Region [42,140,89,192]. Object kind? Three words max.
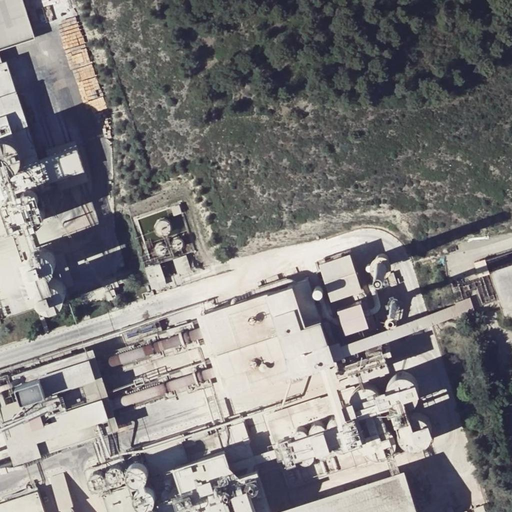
building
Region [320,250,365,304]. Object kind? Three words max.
shed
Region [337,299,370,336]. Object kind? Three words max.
shed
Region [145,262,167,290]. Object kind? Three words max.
building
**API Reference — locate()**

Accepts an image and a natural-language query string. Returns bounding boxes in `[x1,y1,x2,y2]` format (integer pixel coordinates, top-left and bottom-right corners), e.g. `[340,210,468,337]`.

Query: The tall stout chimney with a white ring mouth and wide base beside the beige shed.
[368,246,394,290]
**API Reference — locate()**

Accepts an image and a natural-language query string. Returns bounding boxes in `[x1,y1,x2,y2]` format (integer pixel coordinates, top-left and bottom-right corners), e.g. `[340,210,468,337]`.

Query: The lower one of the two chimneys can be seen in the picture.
[382,290,402,330]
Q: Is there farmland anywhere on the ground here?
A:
No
